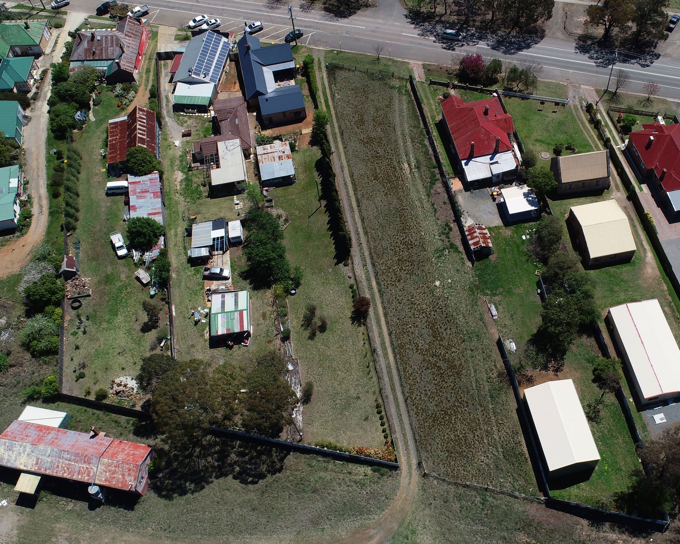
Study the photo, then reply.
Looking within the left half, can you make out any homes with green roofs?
Yes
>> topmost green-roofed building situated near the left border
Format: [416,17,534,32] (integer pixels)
[0,20,54,62]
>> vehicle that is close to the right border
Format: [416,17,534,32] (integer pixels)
[666,12,680,31]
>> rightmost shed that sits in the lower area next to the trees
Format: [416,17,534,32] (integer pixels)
[608,299,680,407]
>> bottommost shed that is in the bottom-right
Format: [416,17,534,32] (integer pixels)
[523,379,601,477]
